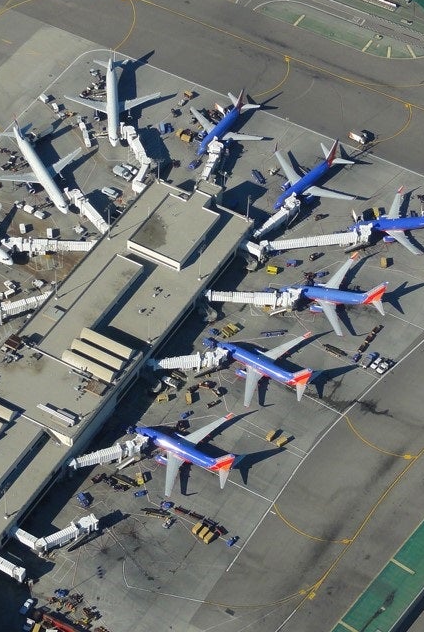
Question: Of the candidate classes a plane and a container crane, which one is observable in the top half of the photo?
plane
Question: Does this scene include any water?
No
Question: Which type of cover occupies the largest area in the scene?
paved ground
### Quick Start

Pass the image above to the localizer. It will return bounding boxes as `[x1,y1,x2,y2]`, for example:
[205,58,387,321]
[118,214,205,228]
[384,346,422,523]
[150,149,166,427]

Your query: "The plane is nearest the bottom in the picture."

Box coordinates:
[136,412,247,498]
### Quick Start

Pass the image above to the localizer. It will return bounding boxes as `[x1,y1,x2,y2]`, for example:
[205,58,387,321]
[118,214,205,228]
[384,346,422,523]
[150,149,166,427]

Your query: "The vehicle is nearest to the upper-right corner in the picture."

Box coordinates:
[347,125,369,144]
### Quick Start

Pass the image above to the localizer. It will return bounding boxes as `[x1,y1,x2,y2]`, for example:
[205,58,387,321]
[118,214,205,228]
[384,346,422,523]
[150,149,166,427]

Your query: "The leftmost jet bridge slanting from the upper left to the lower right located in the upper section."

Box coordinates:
[64,189,111,239]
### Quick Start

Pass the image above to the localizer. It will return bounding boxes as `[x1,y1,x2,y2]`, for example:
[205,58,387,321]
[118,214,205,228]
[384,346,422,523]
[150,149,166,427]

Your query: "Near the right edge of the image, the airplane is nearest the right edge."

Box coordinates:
[349,185,424,254]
